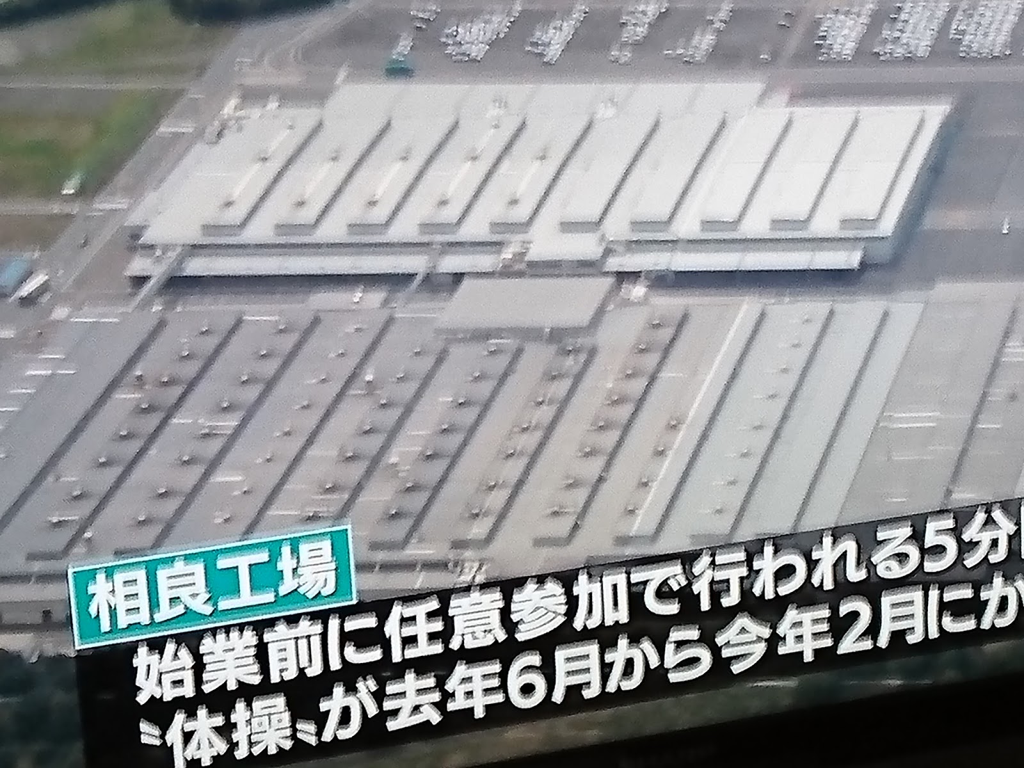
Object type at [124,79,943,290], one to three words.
building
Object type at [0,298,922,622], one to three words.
building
